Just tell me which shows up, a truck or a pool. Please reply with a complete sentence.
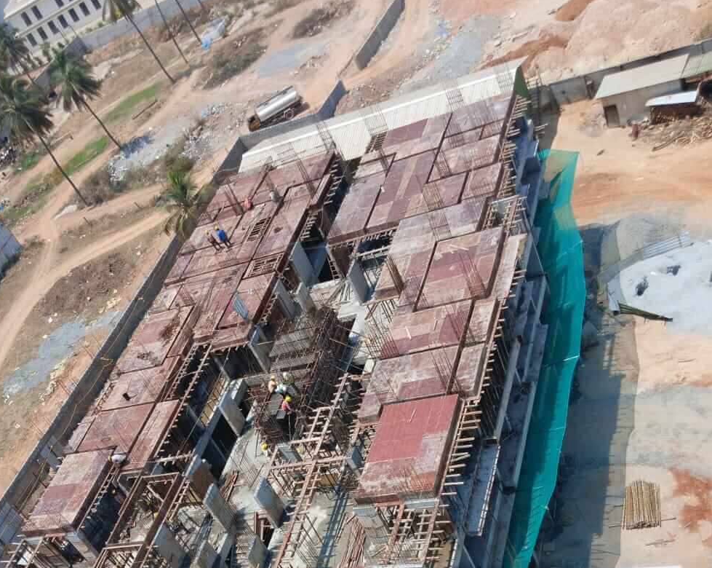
The image shows a truck.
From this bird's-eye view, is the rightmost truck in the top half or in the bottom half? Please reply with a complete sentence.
Seen from above, the rightmost truck lies in the top half of the view.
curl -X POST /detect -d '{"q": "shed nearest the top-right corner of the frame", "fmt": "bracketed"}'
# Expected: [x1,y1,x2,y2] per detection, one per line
[690,44,712,90]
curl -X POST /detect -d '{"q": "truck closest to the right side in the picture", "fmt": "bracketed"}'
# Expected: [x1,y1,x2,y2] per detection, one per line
[243,81,301,126]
